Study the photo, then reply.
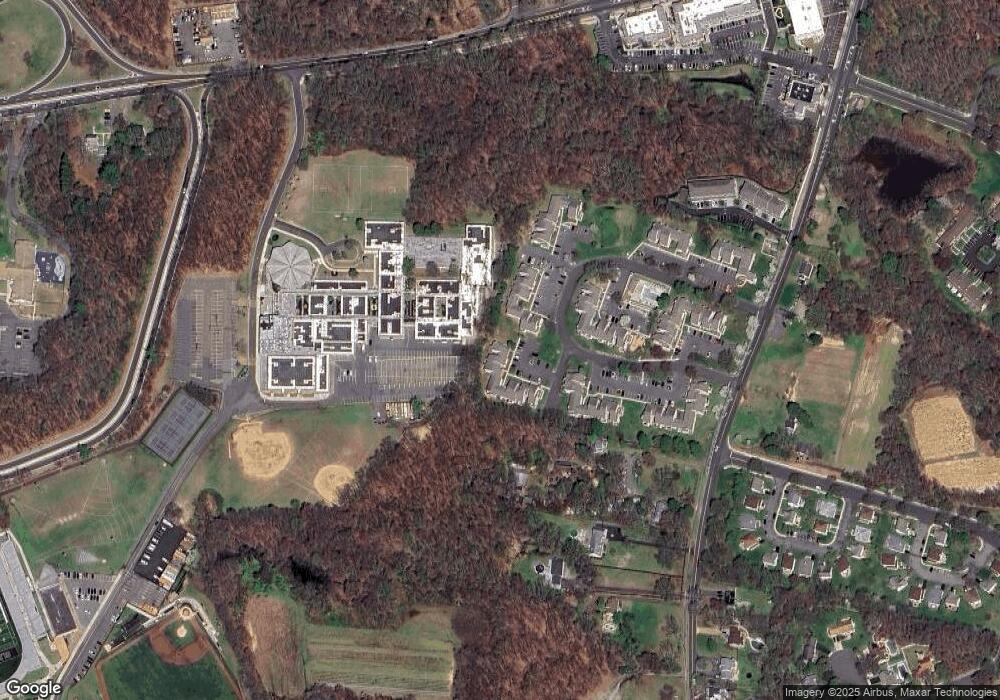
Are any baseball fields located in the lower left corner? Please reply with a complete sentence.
Yes, a baseball field shows up in the lower left corner.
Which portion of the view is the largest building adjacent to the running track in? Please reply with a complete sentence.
The largest building adjacent to the running track is in the bottom left part of the image.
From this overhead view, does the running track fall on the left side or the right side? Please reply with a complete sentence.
The running track is on the left side of the image.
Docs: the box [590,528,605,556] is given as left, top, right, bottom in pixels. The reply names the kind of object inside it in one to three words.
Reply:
house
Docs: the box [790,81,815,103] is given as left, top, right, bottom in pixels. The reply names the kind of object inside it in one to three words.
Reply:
building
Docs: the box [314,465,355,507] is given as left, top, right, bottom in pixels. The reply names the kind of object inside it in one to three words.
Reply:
baseball field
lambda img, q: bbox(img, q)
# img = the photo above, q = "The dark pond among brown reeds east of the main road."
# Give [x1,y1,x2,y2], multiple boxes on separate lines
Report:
[861,142,946,201]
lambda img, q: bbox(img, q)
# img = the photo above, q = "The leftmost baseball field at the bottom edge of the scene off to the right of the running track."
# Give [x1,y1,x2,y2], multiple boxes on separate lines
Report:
[96,605,247,700]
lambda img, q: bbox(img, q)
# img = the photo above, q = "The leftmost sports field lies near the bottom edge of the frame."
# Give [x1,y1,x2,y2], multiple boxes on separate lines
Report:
[0,592,21,682]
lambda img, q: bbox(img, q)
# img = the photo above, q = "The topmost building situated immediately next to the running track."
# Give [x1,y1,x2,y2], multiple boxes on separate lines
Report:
[41,585,78,638]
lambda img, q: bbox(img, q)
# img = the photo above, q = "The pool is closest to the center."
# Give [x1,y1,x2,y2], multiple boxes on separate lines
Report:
[633,279,668,308]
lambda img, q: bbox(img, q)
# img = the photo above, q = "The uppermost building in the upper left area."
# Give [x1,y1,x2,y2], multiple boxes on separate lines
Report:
[205,4,237,23]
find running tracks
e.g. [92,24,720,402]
[0,547,44,695]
